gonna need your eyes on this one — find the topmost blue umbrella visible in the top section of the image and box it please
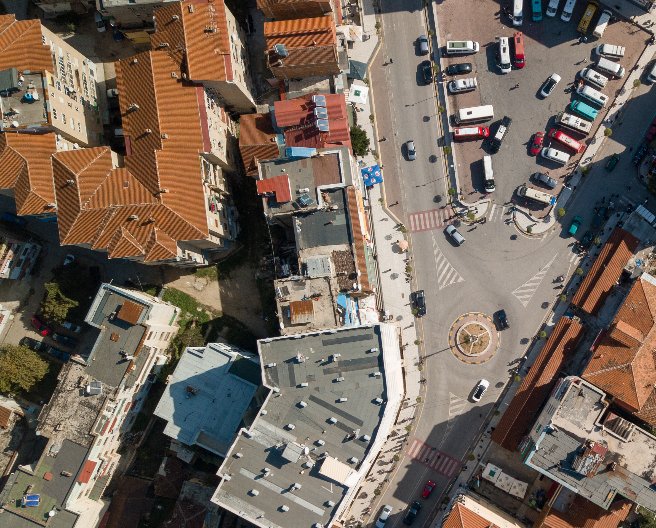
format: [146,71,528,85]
[360,165,384,187]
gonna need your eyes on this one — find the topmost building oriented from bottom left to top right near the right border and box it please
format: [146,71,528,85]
[571,228,640,316]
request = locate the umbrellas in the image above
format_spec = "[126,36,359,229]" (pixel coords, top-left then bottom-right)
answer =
[480,461,500,482]
[509,480,529,500]
[494,470,516,493]
[359,294,375,310]
[347,84,370,105]
[359,306,379,325]
[346,25,363,44]
[360,165,384,187]
[346,59,369,82]
[336,26,347,34]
